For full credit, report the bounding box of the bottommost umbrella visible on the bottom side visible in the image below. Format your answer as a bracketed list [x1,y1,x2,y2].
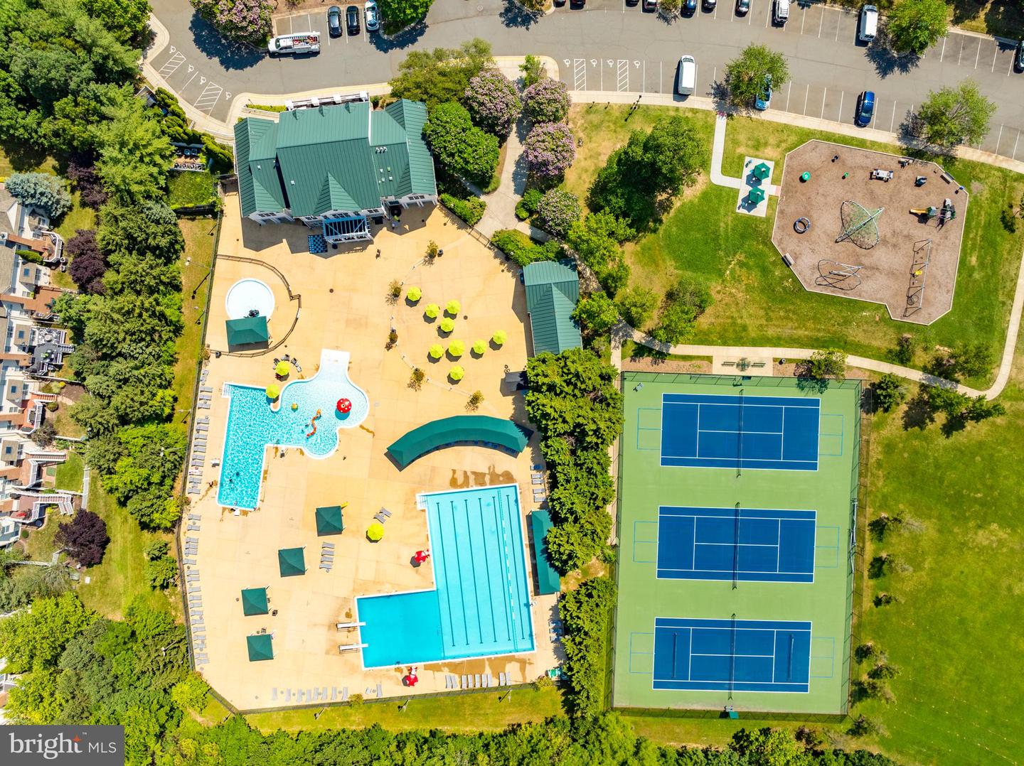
[404,673,417,687]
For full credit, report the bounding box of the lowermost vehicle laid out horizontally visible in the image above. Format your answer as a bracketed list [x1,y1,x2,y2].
[273,32,319,56]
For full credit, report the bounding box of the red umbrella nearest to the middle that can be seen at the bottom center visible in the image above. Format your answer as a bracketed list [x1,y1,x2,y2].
[414,551,427,564]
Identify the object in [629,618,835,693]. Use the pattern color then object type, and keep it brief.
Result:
blue tennis court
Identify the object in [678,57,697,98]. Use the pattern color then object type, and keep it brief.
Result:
white vehicle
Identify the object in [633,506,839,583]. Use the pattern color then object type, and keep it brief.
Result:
blue tennis court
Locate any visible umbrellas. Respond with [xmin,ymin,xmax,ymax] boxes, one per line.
[450,365,464,379]
[448,339,464,355]
[754,162,770,180]
[429,343,443,357]
[390,206,400,216]
[275,362,289,375]
[446,300,460,314]
[368,523,384,539]
[473,340,487,354]
[266,384,281,398]
[493,330,506,344]
[407,286,421,300]
[424,303,438,317]
[748,186,765,204]
[414,551,427,564]
[404,673,417,687]
[440,318,454,332]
